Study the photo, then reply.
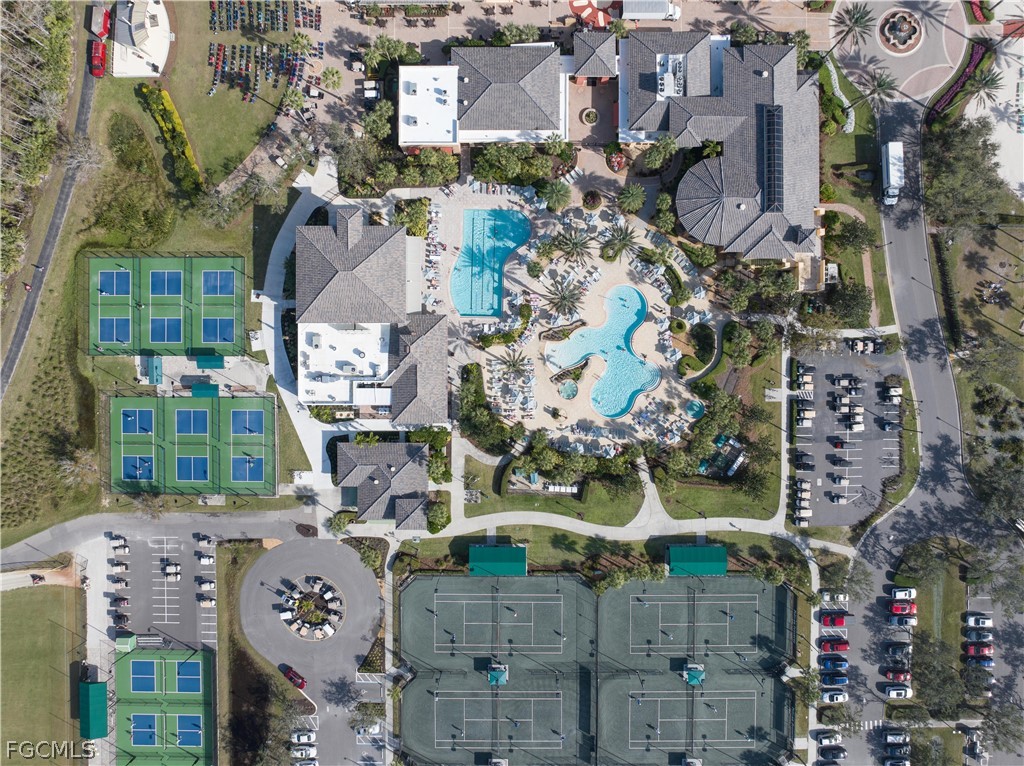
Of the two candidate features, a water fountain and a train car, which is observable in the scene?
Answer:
water fountain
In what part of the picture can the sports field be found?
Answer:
bottom left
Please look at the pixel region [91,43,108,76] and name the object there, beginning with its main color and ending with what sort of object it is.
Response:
red vehicle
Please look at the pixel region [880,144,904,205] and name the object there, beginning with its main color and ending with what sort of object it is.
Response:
white truck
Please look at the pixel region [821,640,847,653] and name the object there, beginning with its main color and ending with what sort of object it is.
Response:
red vehicle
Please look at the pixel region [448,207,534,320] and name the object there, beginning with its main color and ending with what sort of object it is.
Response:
blue swimming pool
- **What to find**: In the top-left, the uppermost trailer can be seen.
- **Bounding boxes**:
[89,3,112,44]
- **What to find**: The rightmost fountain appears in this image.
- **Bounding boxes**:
[876,6,927,56]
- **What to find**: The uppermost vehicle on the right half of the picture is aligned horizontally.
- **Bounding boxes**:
[621,0,678,23]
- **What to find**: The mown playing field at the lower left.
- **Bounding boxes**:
[0,585,66,766]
